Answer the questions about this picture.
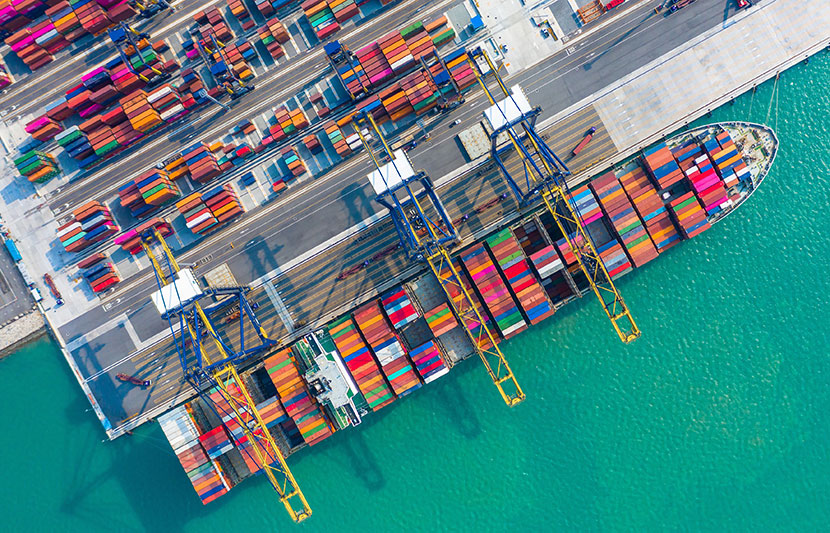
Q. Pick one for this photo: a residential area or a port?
port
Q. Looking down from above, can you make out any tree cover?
No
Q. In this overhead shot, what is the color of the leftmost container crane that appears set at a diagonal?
blue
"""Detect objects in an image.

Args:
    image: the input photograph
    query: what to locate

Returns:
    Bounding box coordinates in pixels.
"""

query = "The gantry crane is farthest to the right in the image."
[466,48,641,343]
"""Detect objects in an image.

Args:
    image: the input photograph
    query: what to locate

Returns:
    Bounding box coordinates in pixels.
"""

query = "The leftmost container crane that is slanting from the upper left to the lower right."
[104,19,171,88]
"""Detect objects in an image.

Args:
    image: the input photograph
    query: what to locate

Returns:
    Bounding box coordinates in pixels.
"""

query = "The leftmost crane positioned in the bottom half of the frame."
[138,230,313,524]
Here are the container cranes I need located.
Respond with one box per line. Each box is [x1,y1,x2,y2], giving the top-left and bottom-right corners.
[138,230,313,524]
[418,47,465,114]
[351,113,525,407]
[104,19,171,88]
[323,36,375,108]
[193,32,254,100]
[466,48,641,343]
